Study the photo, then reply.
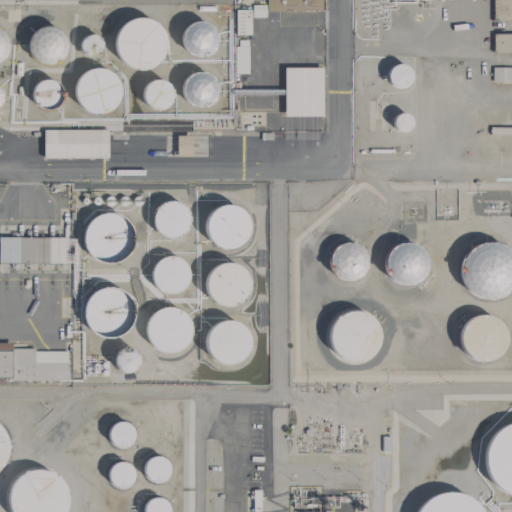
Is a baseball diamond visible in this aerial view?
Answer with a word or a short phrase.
No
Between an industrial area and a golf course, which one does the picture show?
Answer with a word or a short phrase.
industrial area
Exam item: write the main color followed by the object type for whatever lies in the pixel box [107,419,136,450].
white storage tank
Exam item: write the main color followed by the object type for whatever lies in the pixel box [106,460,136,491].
white storage tank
